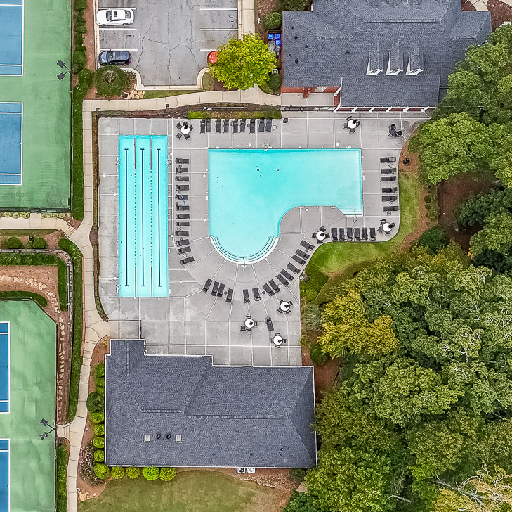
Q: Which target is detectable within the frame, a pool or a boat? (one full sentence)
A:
There is a pool in the scene.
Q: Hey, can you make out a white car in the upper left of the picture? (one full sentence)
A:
Yes, in the upper left of the picture there is a white car.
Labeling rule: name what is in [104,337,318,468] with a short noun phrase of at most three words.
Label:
building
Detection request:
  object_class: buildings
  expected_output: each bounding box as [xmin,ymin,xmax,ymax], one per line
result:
[104,337,318,468]
[277,0,492,112]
